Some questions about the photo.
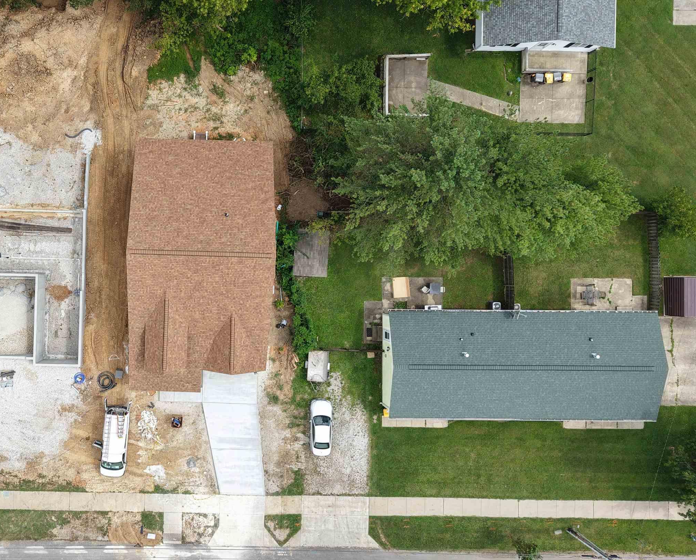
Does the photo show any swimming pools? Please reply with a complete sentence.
No, there is no swimming pool in the image.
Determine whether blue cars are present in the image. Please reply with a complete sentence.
No, the scene contains no blue car.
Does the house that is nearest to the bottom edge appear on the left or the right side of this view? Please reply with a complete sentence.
It is on the right.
